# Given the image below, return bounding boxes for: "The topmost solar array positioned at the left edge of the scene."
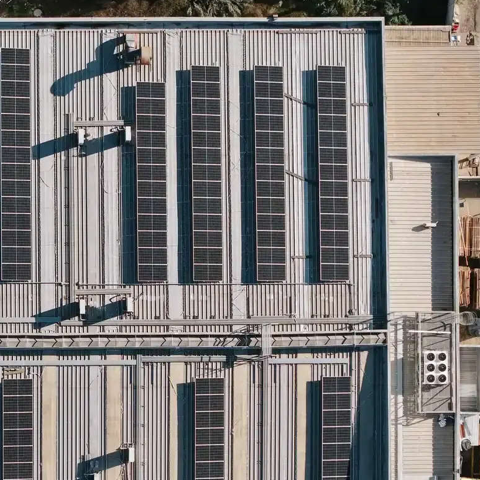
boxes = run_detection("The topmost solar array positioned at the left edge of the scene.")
[0,48,31,281]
